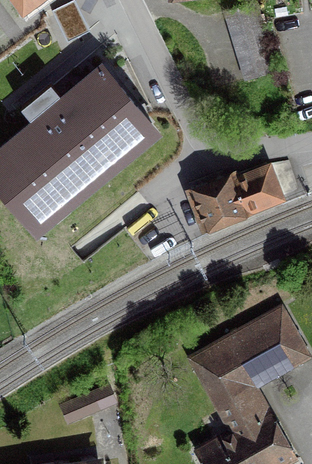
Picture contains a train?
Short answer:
No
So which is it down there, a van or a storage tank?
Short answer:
van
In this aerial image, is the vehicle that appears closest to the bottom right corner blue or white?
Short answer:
white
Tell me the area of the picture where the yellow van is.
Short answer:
center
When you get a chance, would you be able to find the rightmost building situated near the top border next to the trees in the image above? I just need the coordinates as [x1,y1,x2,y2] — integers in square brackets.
[224,12,268,82]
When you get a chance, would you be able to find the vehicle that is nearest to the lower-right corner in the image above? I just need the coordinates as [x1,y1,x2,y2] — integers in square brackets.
[149,235,178,259]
